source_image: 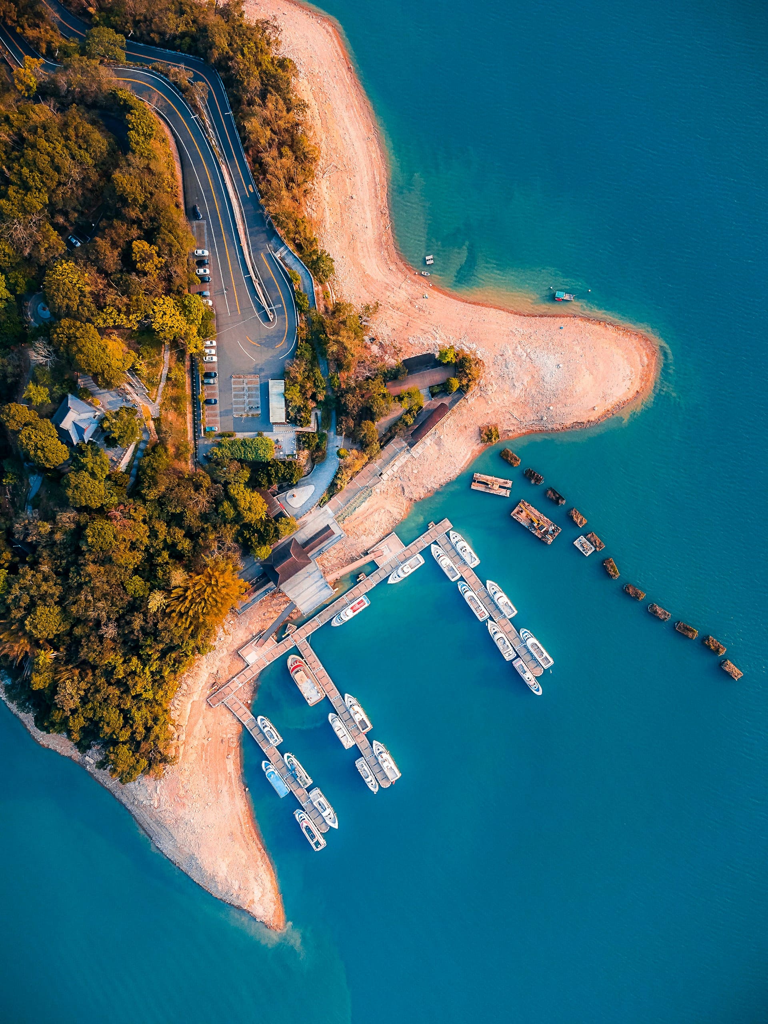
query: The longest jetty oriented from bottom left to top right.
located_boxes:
[207,518,453,707]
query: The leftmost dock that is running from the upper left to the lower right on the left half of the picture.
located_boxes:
[225,696,328,830]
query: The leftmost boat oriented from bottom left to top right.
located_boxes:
[332,596,370,626]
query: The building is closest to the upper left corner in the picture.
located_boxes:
[51,394,102,445]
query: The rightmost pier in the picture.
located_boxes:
[437,534,541,675]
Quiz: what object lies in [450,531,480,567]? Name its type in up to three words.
boat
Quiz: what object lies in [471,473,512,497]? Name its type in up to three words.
ship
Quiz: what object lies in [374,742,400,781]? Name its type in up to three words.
boat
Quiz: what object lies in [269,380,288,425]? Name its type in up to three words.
shed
